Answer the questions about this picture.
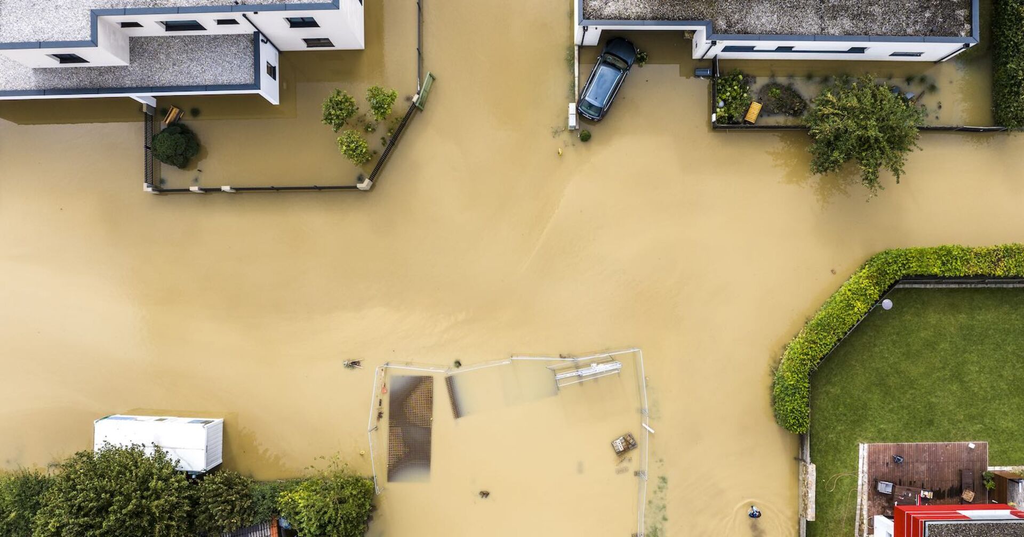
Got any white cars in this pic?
No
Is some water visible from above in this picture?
Yes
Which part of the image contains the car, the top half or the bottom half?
top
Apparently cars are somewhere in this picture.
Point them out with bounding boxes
[576,38,638,129]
